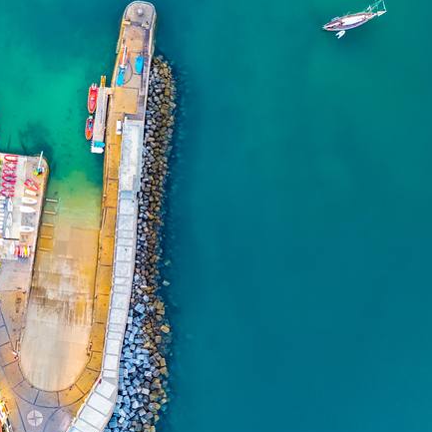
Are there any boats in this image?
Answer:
Yes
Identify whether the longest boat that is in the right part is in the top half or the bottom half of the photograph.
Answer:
top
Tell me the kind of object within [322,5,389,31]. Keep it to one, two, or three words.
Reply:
boat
